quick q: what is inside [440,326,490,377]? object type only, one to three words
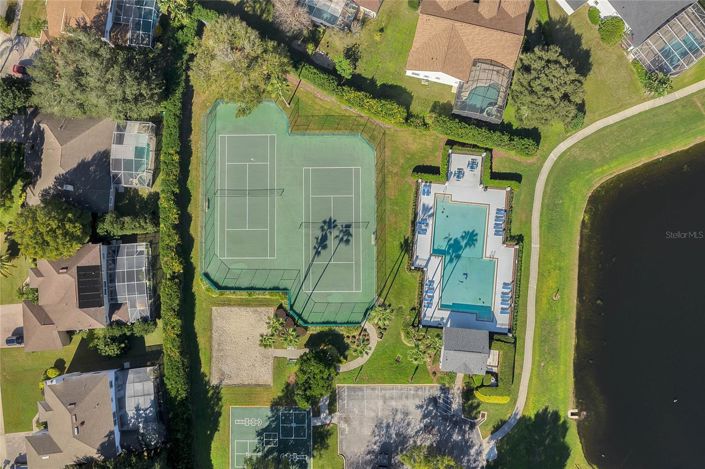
building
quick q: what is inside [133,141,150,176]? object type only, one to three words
swimming pool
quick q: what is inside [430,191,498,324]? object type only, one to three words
swimming pool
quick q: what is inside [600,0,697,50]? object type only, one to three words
house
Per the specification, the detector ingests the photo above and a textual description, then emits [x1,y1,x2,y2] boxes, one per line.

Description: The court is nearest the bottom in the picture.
[230,406,312,469]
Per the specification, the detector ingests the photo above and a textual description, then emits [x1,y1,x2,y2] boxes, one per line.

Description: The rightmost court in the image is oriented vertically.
[288,134,375,321]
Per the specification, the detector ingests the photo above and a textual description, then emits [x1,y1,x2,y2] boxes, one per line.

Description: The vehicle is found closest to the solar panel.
[6,335,24,348]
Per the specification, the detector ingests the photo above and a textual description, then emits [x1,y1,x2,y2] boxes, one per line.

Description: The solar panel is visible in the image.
[78,265,104,308]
